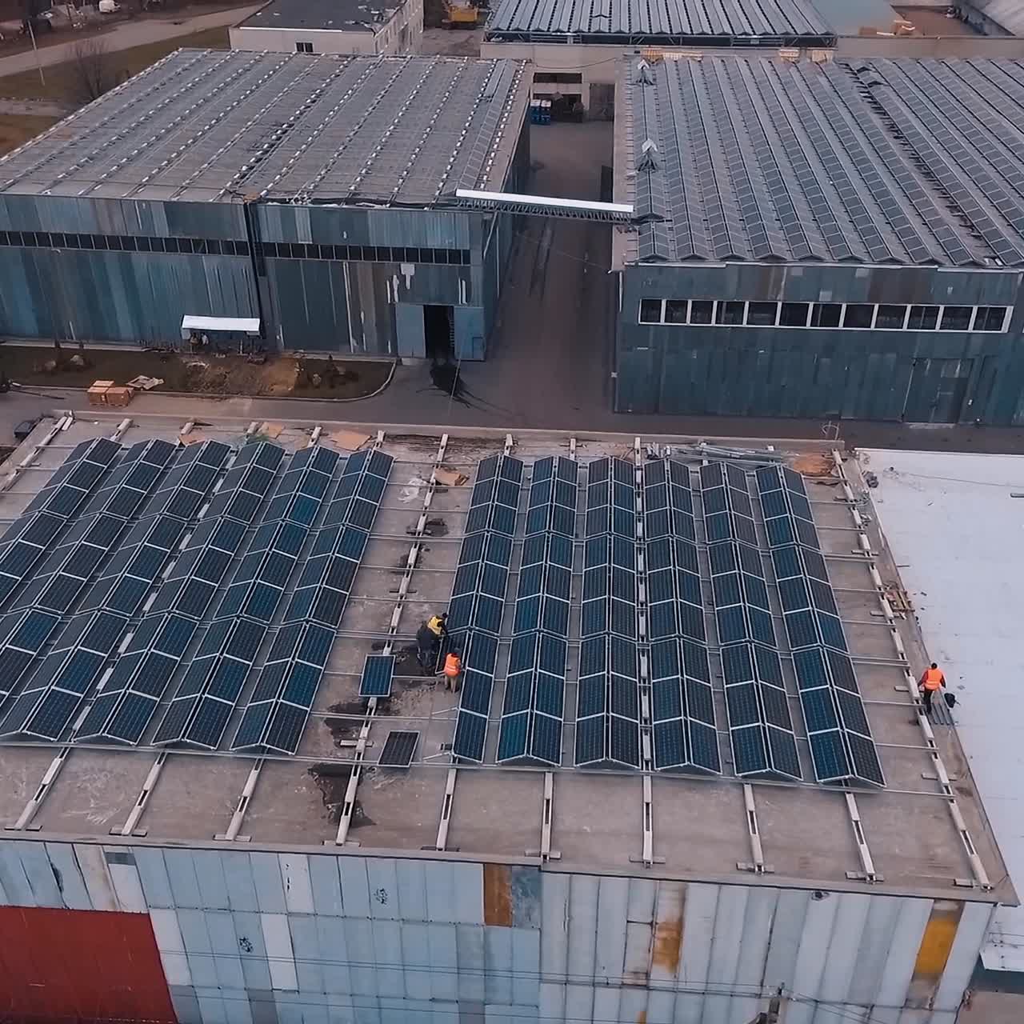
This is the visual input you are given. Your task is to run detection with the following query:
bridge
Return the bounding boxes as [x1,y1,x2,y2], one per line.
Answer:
[453,188,636,238]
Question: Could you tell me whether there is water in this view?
No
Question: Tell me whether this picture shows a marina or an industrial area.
industrial area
